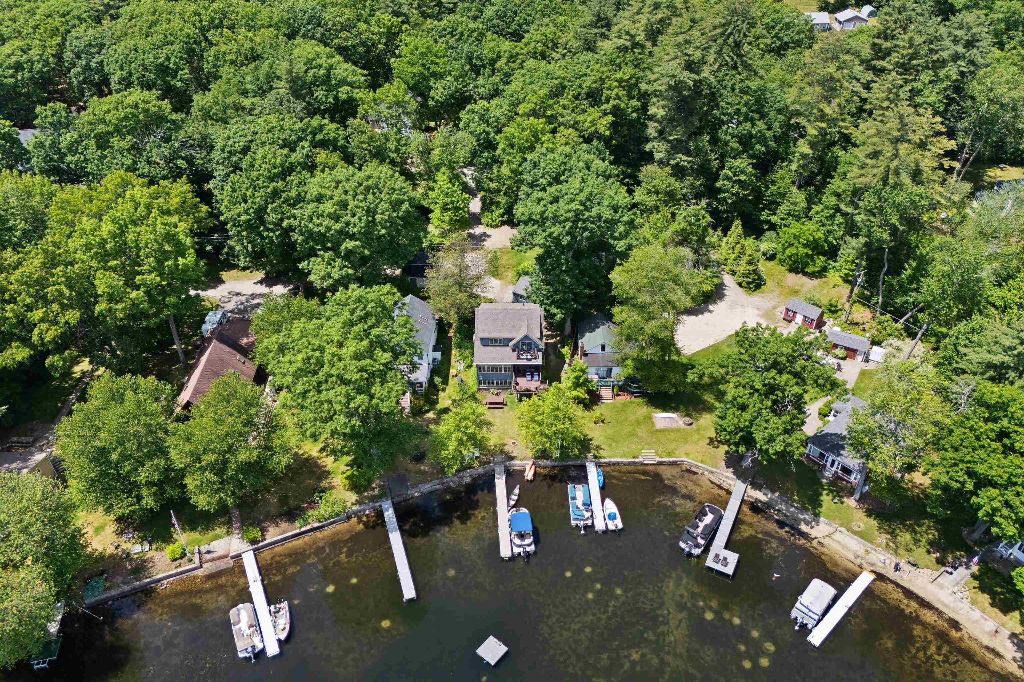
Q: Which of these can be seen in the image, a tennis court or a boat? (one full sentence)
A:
This aerial view contains a boat.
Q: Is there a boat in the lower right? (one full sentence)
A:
Yes, a boat shows up in the lower right.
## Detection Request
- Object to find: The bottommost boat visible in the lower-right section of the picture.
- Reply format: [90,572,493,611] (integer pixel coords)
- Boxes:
[786,574,840,635]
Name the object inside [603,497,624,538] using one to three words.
boat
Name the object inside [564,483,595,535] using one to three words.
boat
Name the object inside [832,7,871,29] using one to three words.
building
